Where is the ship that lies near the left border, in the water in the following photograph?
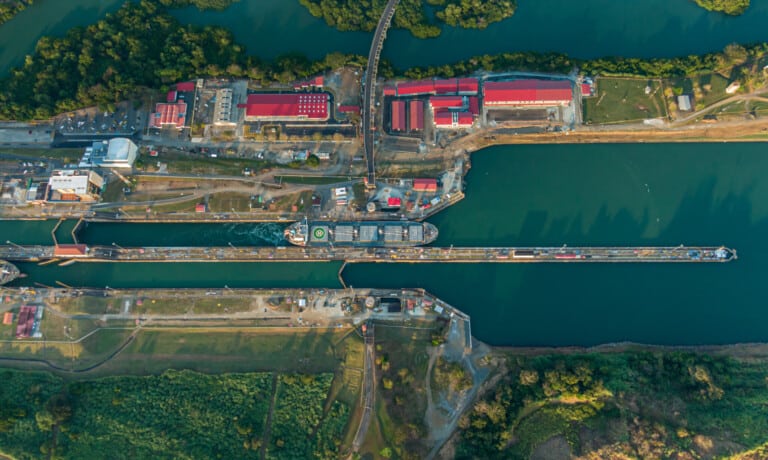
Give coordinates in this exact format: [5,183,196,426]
[0,260,28,284]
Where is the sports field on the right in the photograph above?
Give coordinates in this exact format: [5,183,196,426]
[584,78,670,124]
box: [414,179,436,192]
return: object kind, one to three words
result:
shed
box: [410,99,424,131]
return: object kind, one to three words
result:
shed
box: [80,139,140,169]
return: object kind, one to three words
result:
building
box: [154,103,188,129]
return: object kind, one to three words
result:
building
